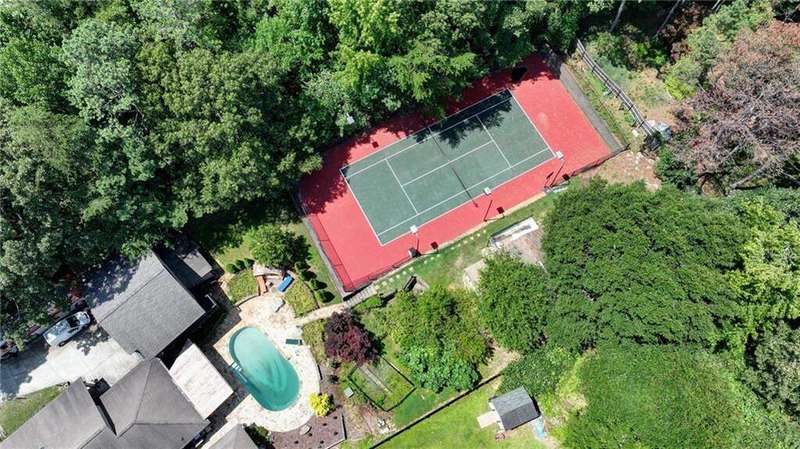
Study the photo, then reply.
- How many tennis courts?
1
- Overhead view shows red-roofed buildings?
No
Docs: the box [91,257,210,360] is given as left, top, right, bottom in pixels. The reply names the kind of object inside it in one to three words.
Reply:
building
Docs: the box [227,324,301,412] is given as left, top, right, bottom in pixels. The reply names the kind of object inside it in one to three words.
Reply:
swimming pool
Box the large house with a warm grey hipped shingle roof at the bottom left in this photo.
[0,357,212,449]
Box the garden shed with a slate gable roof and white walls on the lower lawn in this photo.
[491,387,540,430]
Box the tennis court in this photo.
[280,41,618,292]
